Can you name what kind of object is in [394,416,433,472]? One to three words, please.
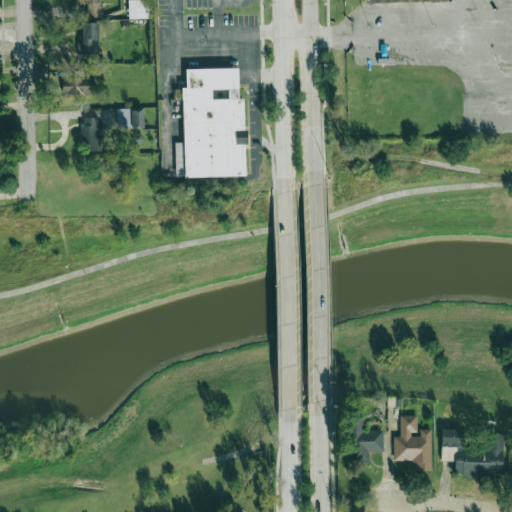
house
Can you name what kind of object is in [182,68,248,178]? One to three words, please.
building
